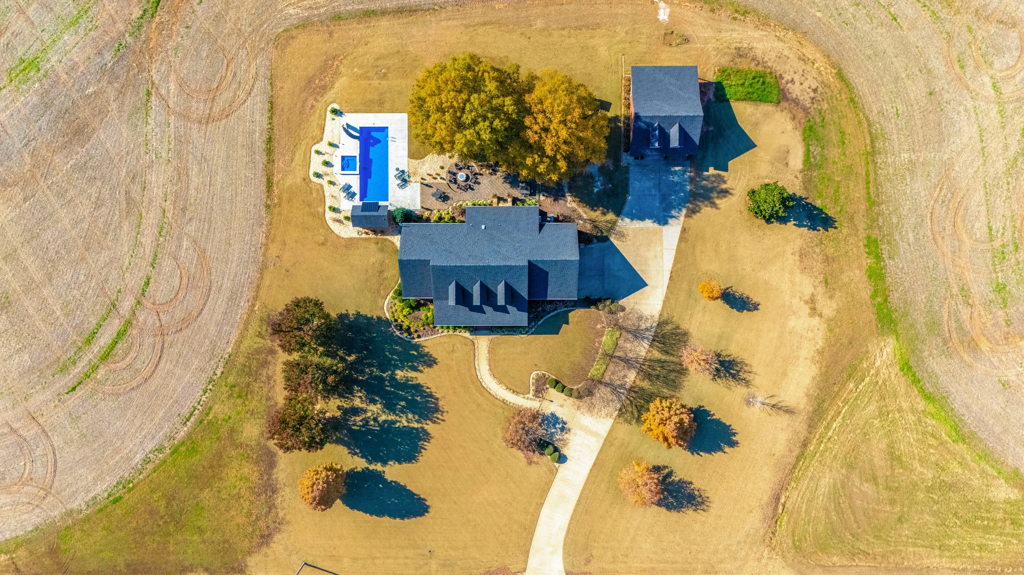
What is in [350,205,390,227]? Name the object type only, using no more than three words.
shed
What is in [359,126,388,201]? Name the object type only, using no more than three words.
swimming pool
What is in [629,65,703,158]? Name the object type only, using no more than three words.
building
